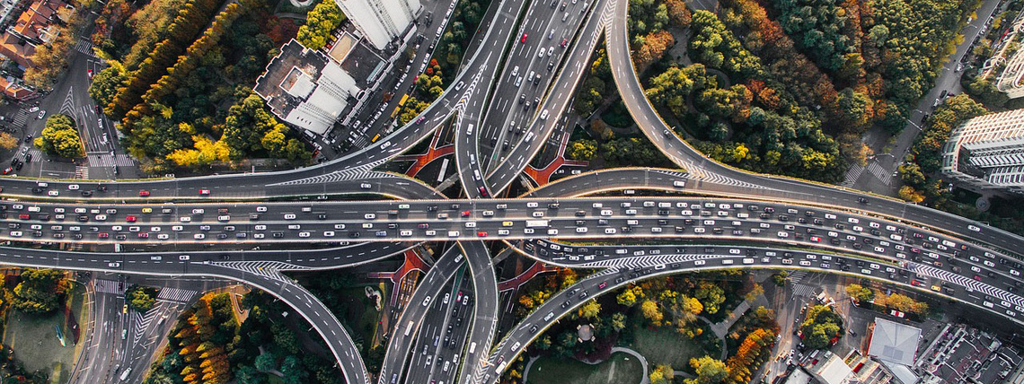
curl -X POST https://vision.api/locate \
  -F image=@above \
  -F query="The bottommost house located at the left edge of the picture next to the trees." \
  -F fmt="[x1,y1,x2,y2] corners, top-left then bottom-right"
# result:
[0,70,45,107]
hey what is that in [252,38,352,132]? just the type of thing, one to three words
building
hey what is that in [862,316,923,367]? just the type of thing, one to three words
building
